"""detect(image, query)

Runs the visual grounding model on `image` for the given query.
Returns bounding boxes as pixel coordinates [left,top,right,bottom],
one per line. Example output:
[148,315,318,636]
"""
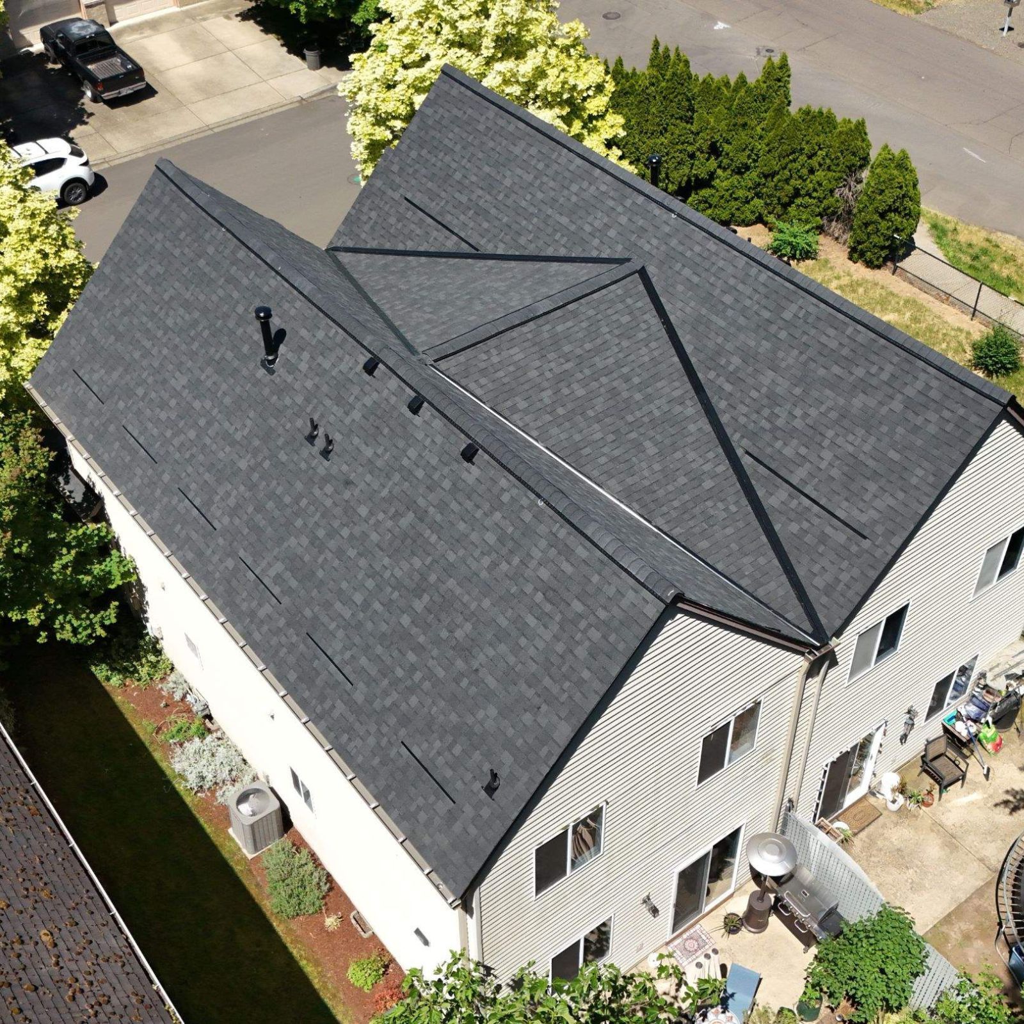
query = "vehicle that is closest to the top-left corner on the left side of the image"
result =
[40,21,149,100]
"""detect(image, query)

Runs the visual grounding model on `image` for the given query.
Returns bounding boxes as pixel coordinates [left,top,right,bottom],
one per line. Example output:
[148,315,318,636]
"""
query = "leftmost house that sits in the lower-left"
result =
[0,723,185,1024]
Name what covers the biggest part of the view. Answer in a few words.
buildings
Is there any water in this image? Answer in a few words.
No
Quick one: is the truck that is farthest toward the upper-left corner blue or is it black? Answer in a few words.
black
